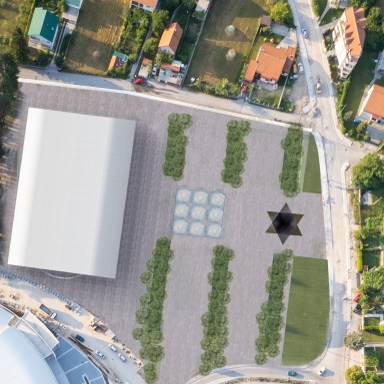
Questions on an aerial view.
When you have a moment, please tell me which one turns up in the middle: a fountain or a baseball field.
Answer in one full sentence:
Looking in the middle, you will find a fountain.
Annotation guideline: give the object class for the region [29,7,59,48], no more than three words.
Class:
house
